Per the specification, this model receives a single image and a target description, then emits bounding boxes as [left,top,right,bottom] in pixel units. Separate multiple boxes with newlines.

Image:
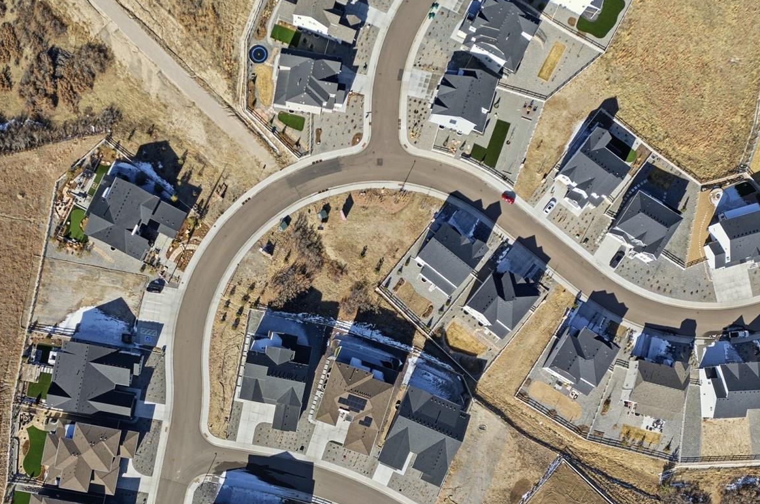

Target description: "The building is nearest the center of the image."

[414,220,490,298]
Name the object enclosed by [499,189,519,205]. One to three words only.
car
